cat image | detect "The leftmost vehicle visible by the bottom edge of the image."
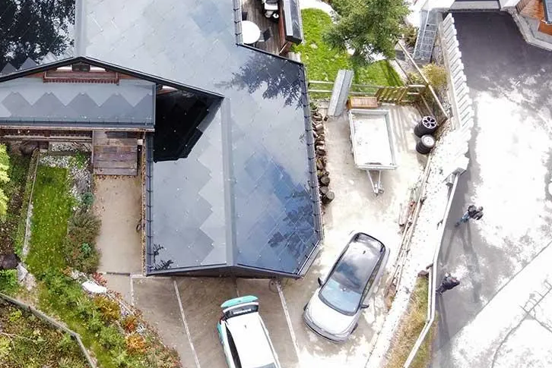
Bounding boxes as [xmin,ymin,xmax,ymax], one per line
[208,282,283,368]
